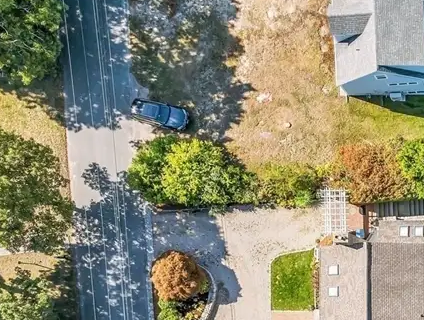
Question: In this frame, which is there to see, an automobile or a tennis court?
automobile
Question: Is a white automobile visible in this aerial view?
No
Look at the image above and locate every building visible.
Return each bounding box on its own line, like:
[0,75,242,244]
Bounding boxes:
[310,215,424,320]
[329,0,424,92]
